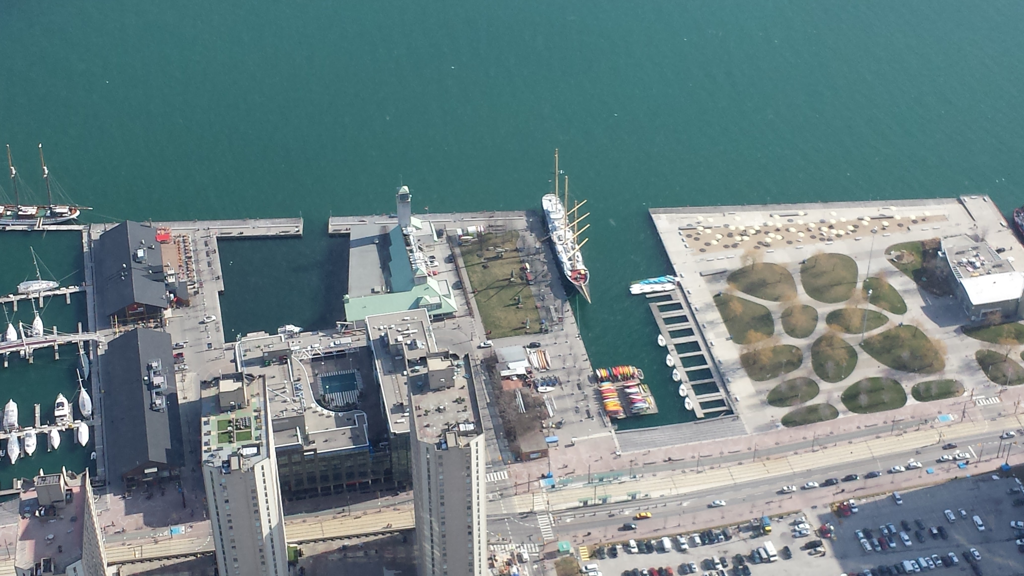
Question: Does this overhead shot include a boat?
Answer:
Yes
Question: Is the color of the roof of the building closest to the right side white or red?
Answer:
white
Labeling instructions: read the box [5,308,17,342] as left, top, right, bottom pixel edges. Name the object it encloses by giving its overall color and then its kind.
white boat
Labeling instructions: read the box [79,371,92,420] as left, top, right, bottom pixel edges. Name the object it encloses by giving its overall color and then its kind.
white boat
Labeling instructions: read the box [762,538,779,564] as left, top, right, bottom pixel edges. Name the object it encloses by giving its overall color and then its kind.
white vehicle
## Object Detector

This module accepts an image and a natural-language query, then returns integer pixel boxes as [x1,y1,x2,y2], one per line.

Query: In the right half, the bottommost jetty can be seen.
[596,373,658,420]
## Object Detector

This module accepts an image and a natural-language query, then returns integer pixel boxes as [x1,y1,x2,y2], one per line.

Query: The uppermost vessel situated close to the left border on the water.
[0,149,93,220]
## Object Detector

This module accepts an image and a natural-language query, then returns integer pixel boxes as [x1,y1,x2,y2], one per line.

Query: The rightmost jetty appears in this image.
[646,292,734,419]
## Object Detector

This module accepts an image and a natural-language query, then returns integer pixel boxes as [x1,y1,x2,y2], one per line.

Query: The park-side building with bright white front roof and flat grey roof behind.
[937,234,1024,322]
